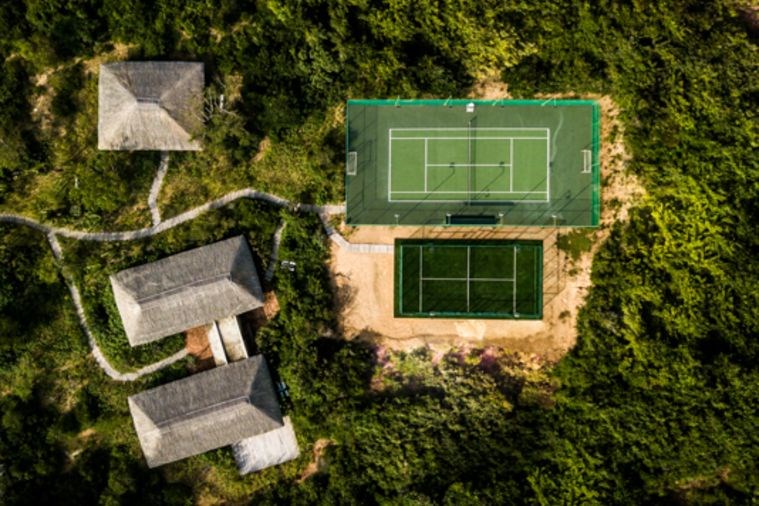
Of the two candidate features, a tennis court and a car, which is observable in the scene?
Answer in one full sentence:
Visible in the photo is a tennis court.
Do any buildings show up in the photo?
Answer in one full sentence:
Yes, the image includes a building.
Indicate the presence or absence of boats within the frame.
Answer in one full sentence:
No, the picture doesn't show any boat.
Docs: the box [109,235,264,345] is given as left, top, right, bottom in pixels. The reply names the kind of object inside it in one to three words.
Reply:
house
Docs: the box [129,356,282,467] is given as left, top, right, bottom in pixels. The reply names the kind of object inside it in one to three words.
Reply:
house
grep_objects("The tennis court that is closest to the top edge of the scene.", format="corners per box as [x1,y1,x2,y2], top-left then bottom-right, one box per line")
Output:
[345,104,593,228]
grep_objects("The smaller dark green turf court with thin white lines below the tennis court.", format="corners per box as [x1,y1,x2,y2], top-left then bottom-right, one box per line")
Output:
[394,239,543,319]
